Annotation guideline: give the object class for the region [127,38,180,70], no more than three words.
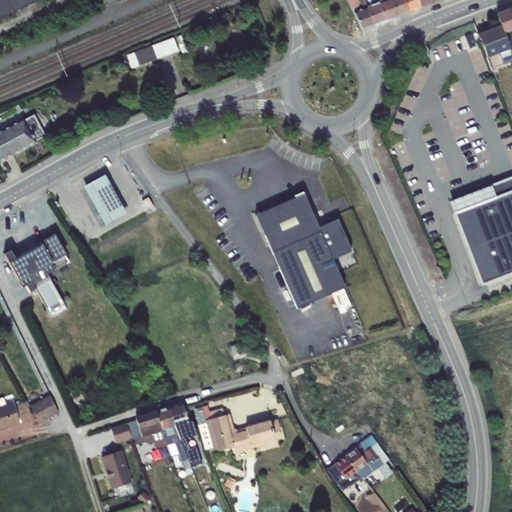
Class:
shed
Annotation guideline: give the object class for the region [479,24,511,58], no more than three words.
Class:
house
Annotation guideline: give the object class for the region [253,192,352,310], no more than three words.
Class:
building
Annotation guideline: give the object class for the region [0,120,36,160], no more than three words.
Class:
house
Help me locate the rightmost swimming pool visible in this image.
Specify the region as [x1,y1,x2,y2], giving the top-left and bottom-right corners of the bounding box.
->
[230,457,258,512]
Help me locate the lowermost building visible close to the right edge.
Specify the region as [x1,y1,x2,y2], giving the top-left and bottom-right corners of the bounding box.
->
[449,177,512,290]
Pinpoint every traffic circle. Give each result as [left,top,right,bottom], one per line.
[280,40,376,133]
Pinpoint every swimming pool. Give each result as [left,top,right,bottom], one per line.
[210,503,220,512]
[230,457,258,512]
